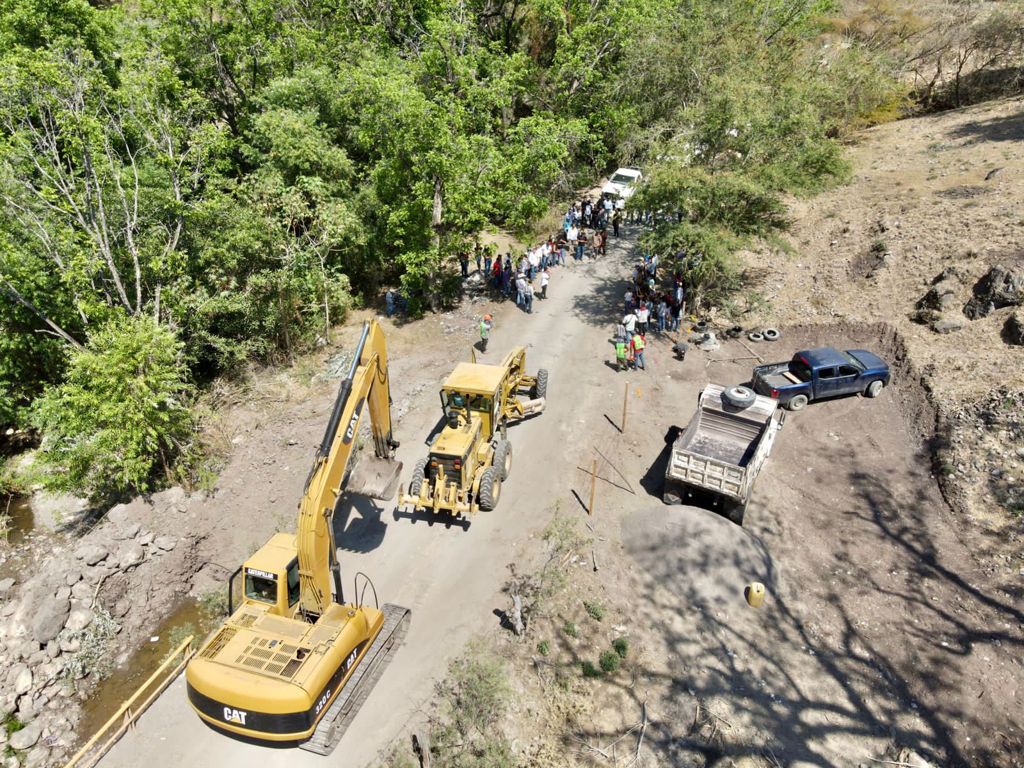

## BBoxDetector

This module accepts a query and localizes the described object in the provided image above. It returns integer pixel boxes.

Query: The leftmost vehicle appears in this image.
[193,314,412,757]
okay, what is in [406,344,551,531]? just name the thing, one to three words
work vehicle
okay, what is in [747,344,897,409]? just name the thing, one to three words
truck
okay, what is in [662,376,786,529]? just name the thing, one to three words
truck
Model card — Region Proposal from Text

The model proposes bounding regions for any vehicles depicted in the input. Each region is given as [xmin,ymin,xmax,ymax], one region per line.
[193,314,412,757]
[747,344,897,409]
[406,344,551,531]
[603,162,649,206]
[662,376,786,529]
